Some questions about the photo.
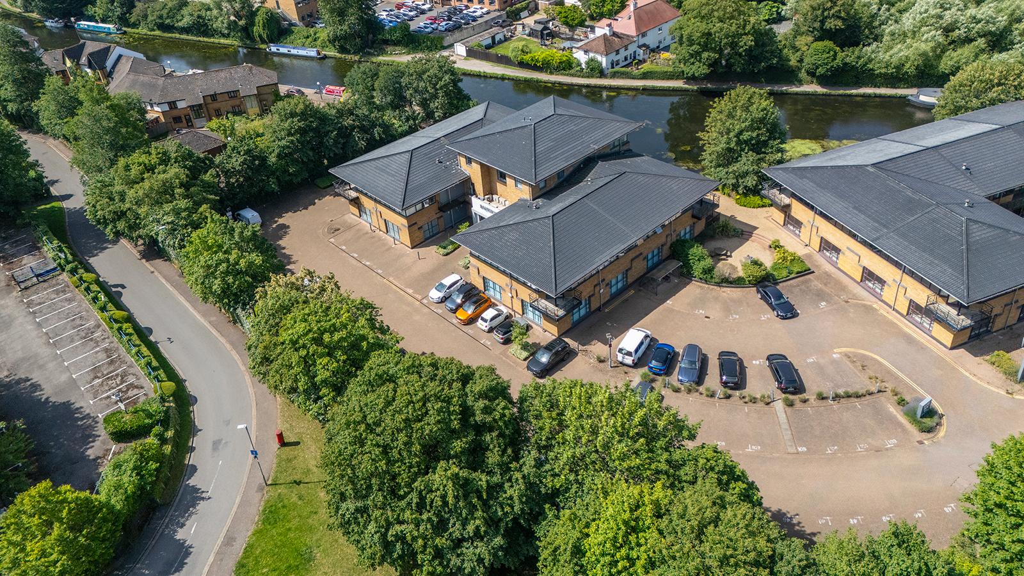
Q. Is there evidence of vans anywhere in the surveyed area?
Yes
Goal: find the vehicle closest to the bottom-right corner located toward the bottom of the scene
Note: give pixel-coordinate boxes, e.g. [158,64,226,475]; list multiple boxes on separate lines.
[764,353,803,397]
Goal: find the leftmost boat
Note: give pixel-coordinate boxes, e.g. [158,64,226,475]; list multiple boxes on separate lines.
[40,17,68,30]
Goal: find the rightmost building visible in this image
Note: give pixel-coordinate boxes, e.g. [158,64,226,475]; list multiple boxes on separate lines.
[766,95,1024,349]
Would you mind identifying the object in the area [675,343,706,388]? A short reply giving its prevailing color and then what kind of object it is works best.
blue car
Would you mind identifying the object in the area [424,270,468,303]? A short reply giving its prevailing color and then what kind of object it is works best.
white car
